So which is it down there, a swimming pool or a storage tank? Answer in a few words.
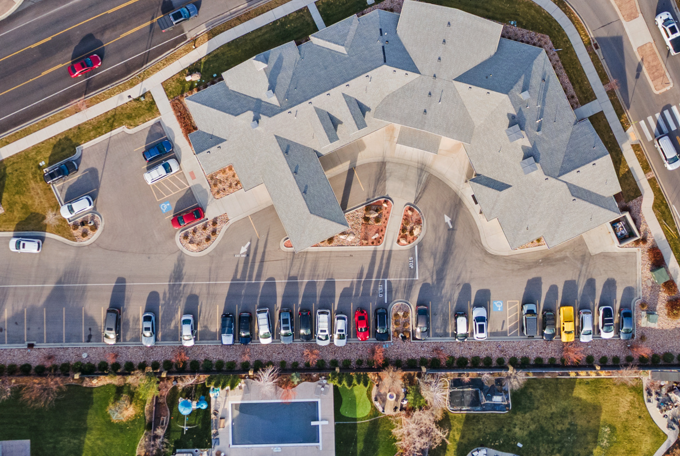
swimming pool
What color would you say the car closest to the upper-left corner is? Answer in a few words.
red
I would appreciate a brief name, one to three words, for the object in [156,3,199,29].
truck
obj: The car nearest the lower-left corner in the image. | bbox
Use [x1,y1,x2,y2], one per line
[102,308,121,345]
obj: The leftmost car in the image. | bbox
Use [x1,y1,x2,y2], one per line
[9,237,42,254]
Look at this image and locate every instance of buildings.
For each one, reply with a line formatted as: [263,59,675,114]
[646,367,680,382]
[187,0,621,254]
